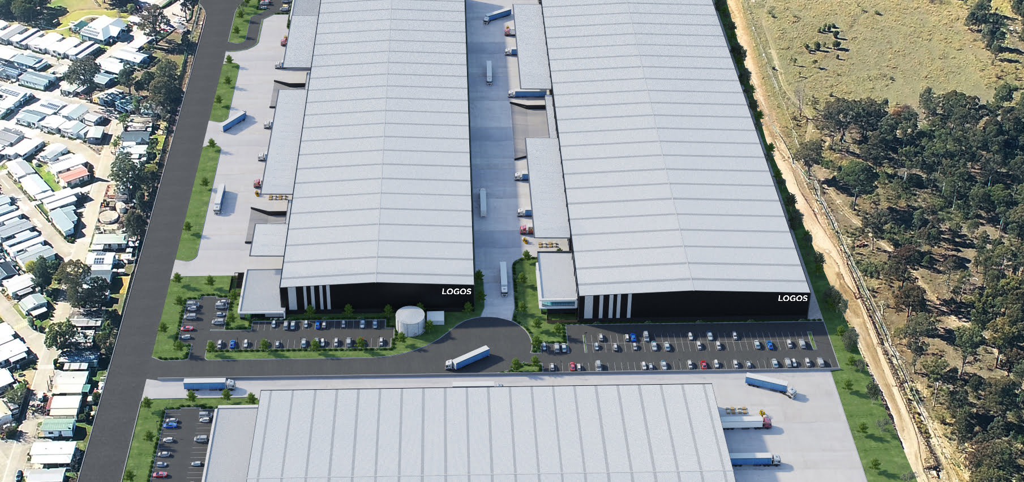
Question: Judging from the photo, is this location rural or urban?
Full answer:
The land in this view is best described as urban.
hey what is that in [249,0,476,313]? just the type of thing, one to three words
warehouse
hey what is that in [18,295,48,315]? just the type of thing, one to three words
house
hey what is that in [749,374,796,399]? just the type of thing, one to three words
truck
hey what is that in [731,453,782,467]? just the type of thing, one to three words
vehicle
